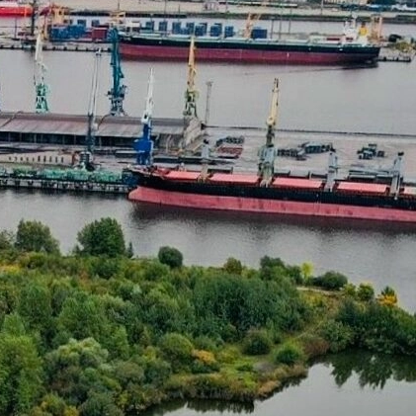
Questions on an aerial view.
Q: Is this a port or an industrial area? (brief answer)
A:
port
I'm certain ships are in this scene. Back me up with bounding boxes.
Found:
[126,138,416,222]
[114,14,381,65]
[0,0,42,15]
